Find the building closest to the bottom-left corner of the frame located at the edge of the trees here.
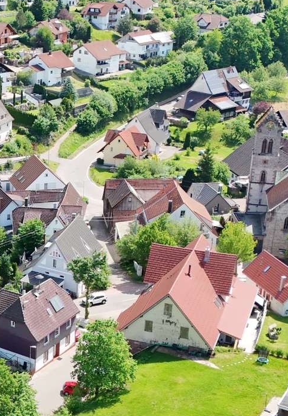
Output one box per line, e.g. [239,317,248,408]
[0,277,76,361]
